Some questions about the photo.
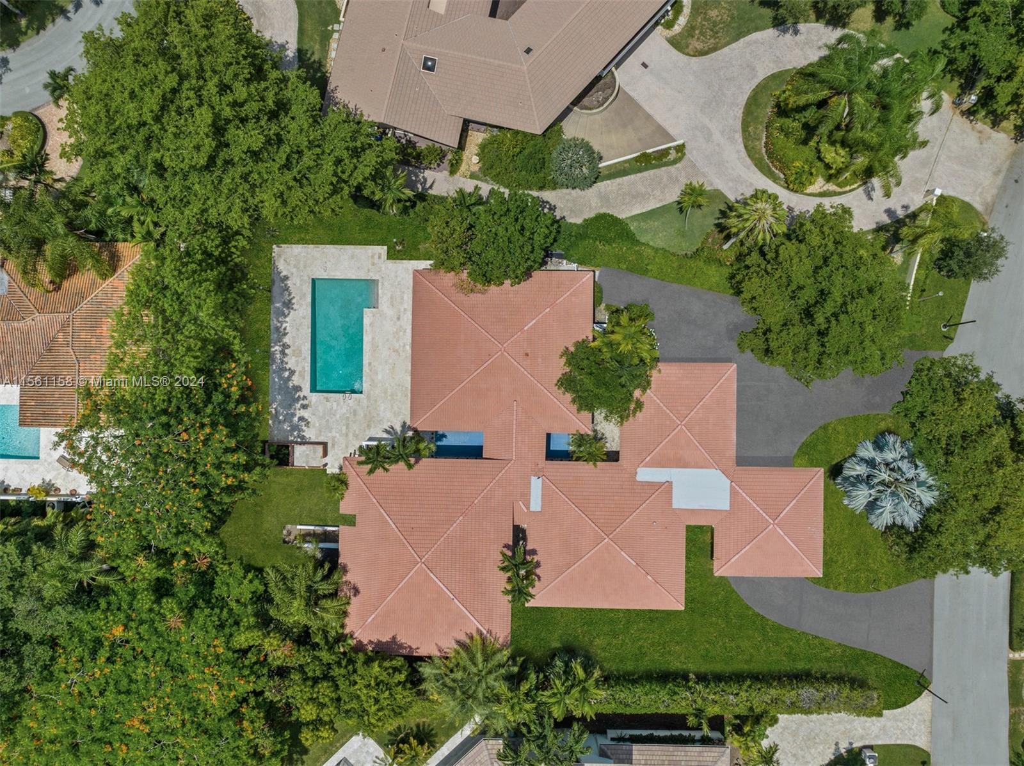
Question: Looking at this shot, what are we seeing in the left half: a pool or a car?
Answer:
pool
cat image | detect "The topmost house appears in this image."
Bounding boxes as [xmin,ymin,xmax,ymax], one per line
[322,0,679,148]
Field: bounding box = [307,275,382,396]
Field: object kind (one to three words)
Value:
swimming pool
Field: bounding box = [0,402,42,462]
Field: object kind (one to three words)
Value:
swimming pool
